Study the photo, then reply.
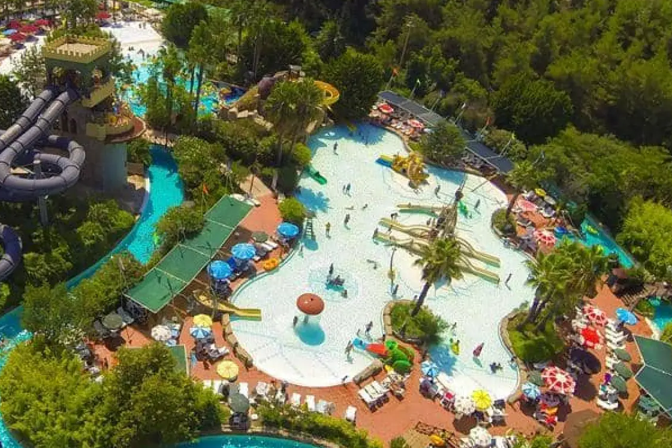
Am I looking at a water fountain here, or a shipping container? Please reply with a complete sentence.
It is a water fountain that can be seen here.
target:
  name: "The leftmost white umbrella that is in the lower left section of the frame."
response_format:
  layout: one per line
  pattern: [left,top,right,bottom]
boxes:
[152,328,170,341]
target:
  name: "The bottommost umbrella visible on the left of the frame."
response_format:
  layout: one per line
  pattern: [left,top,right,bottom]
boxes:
[226,393,253,427]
